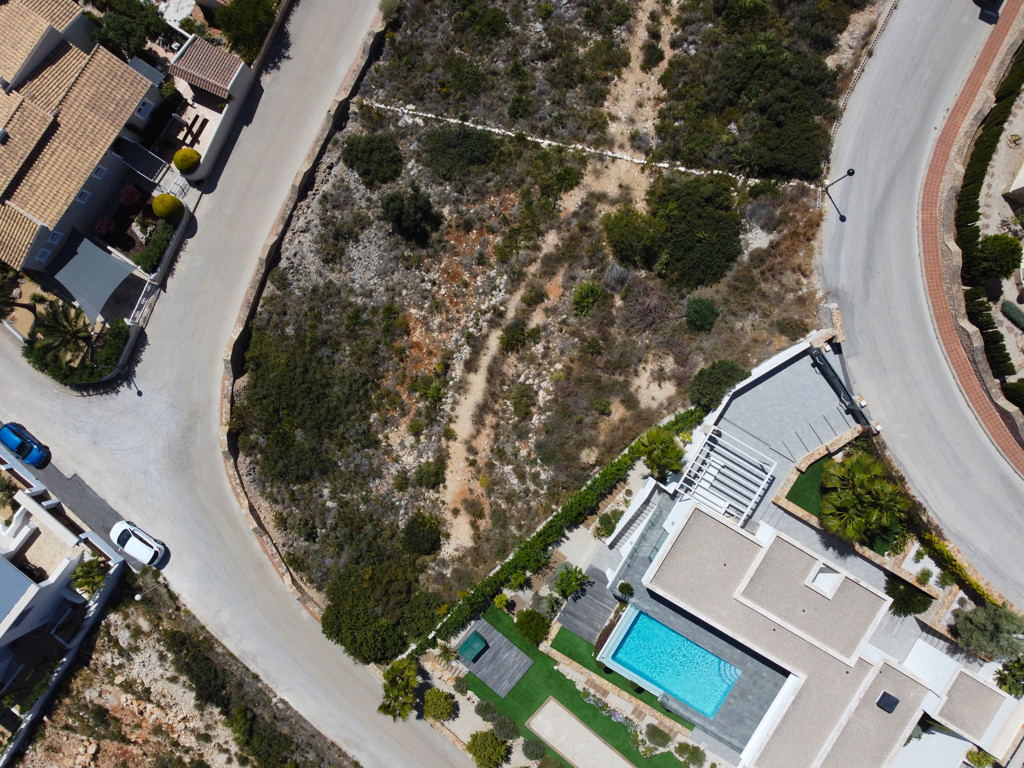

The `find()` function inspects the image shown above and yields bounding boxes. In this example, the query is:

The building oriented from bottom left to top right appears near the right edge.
[989,162,1024,202]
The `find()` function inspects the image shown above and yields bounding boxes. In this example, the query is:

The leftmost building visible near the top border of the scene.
[0,0,169,274]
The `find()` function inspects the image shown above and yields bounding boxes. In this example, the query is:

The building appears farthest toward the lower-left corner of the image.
[0,548,95,655]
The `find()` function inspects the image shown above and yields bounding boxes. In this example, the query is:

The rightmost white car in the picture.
[111,518,172,569]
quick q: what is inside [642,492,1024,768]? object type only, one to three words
house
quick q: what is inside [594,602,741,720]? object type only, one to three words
swimming pool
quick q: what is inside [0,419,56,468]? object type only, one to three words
car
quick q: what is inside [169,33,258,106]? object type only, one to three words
building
